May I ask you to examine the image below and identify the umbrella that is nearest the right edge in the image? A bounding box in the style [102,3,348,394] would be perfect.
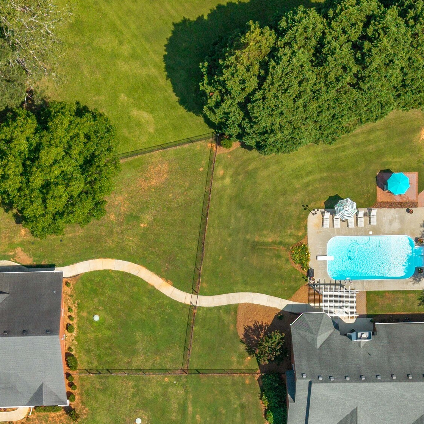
[388,172,410,194]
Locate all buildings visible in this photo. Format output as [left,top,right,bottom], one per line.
[286,311,424,424]
[0,271,69,414]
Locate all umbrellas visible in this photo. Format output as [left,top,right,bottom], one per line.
[334,197,357,219]
[388,172,410,194]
